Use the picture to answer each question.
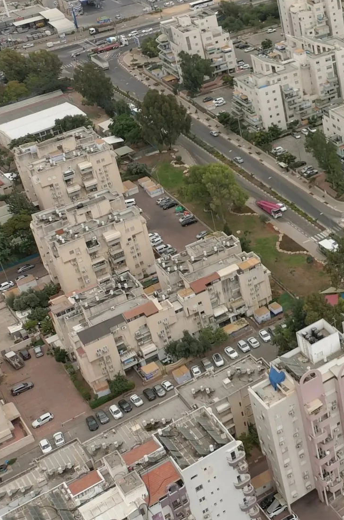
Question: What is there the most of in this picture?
buildings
